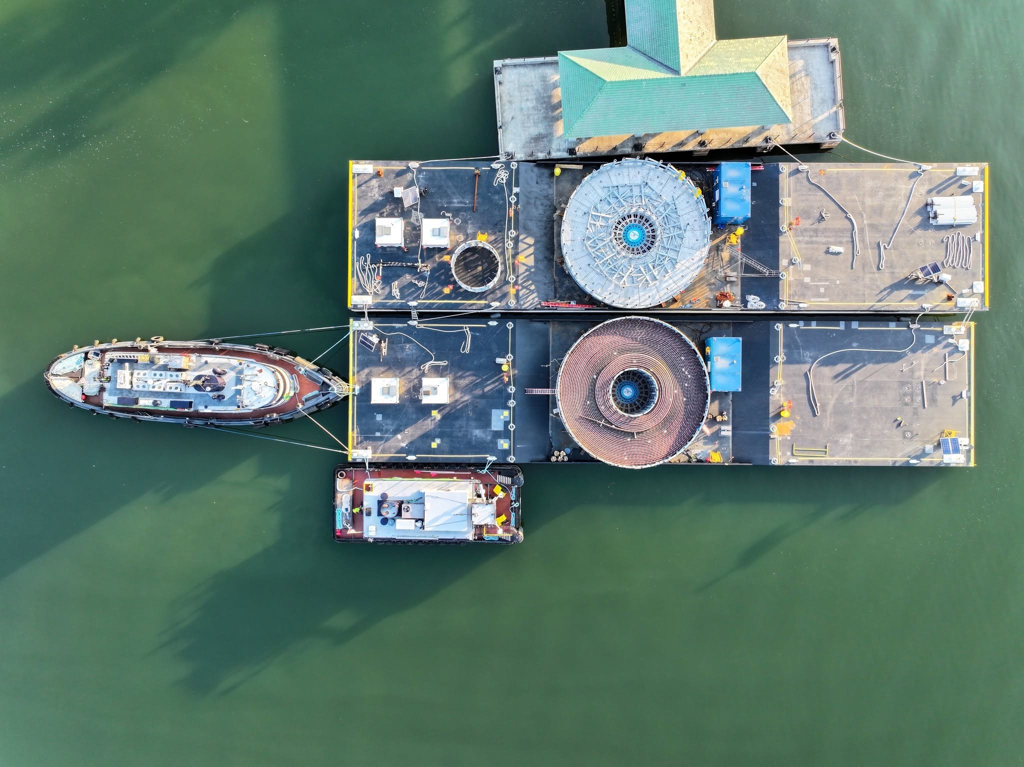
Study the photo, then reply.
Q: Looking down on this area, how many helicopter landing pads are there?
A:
0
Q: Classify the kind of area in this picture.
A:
port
